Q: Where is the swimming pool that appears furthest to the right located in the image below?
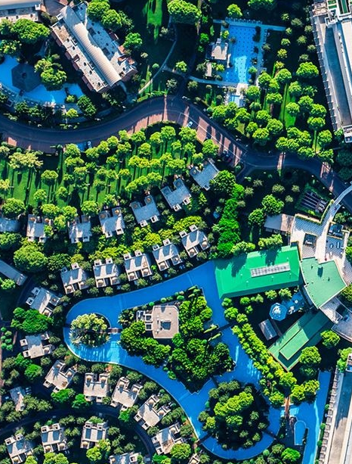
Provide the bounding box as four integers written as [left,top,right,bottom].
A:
[302,369,333,464]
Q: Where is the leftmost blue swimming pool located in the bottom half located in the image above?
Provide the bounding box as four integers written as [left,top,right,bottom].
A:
[63,263,281,462]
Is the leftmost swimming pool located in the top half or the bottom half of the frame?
top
